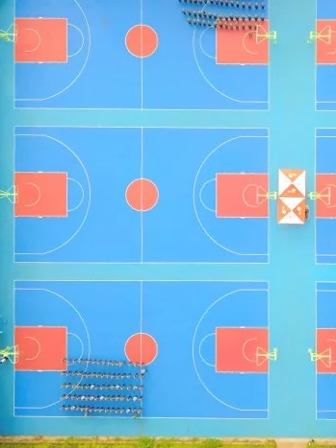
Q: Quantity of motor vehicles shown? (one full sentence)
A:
The count of motor vehicles is 0.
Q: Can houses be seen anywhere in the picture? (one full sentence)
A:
No, there appears to be no house in this shot.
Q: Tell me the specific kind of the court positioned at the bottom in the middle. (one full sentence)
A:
It looks like the court positioned at the bottom in the middle is a basketball court.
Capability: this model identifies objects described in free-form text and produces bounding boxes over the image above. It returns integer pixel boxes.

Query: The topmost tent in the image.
[278,169,306,198]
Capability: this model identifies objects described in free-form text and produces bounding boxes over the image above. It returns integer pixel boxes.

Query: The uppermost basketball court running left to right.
[14,0,269,110]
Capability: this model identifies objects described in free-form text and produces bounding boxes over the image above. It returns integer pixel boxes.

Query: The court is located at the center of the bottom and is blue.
[14,281,269,420]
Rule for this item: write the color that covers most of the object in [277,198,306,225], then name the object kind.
white tent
